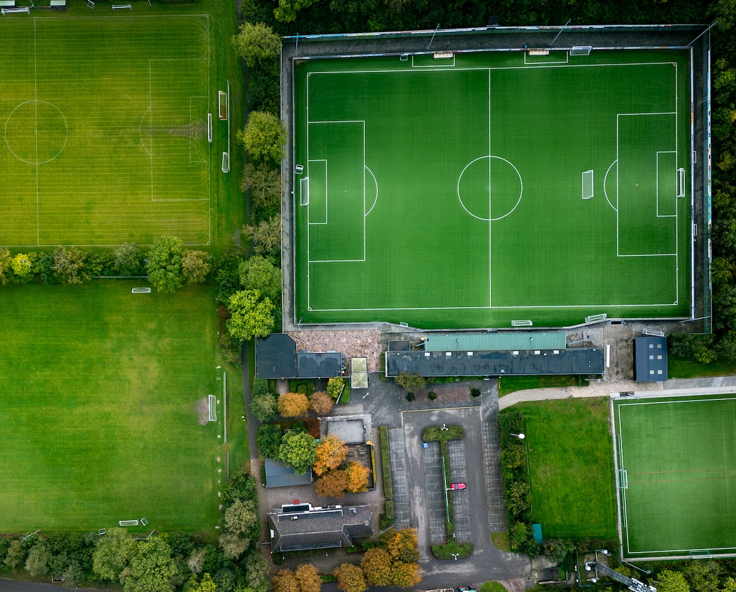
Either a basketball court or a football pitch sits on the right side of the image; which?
football pitch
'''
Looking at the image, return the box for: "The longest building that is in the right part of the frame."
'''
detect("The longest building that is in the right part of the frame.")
[385,348,605,378]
